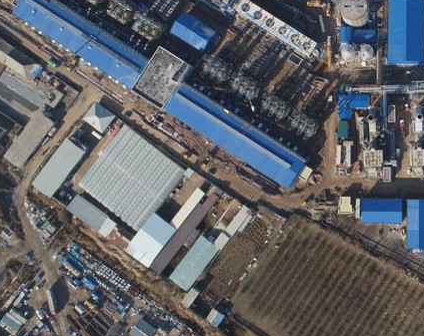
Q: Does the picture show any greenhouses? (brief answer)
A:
Yes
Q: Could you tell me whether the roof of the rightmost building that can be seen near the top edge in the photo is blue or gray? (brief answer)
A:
blue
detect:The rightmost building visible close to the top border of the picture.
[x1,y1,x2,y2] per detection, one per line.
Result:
[388,0,424,67]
